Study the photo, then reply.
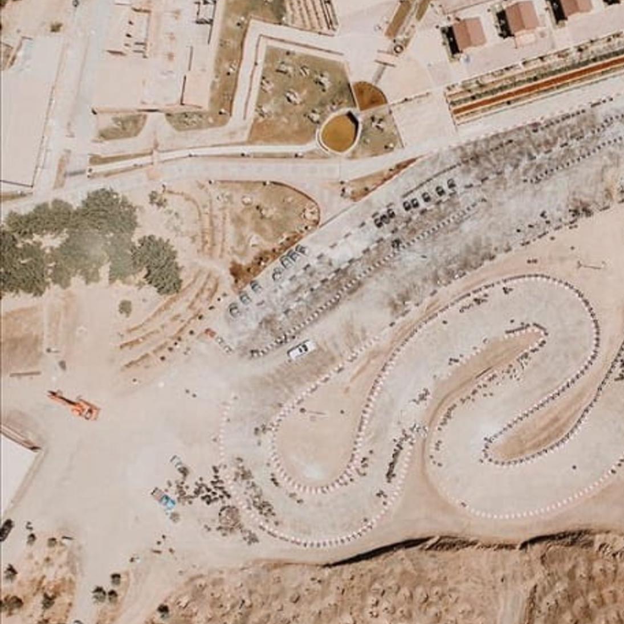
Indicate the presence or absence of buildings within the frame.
Yes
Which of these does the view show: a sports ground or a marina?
sports ground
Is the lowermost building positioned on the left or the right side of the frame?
left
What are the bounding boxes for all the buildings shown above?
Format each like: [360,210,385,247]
[452,16,487,59]
[0,427,46,526]
[563,0,595,24]
[0,35,63,187]
[505,0,541,41]
[92,0,227,115]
